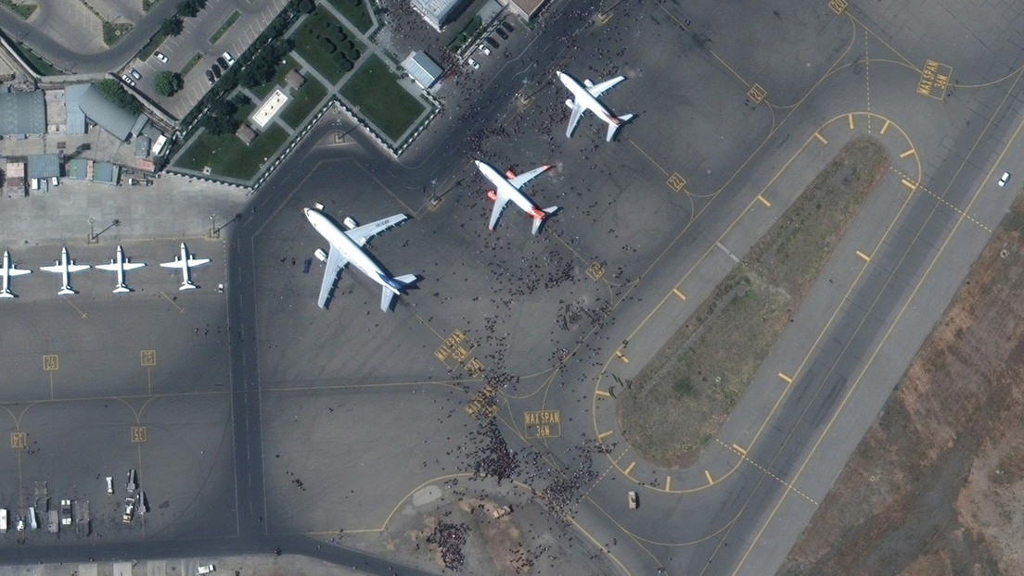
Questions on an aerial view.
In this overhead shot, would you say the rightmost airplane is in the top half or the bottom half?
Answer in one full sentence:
The rightmost airplane sits in the top half of the picture.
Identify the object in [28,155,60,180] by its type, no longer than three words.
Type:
building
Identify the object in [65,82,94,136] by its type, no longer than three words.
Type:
shed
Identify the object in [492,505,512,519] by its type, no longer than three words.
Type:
vehicle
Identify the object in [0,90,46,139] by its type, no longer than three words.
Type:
building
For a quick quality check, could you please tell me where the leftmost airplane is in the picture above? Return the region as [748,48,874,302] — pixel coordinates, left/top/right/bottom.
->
[0,251,31,296]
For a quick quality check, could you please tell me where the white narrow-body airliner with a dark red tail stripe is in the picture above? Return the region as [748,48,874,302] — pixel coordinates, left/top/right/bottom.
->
[556,72,631,138]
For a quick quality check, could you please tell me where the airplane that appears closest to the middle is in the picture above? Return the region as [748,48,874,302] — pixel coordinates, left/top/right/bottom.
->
[475,160,556,228]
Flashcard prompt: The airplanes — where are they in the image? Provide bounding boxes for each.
[41,248,91,292]
[0,251,31,296]
[160,243,210,288]
[95,246,145,291]
[304,208,414,309]
[556,72,631,138]
[475,160,556,228]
